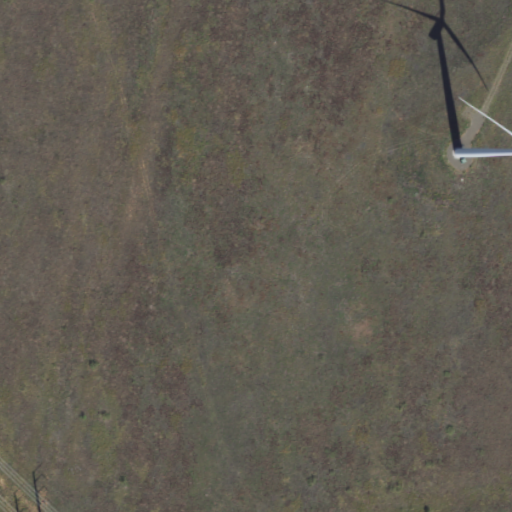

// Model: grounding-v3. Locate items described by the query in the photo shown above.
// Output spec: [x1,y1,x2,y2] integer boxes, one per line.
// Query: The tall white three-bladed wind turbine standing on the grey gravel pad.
[454,102,512,159]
